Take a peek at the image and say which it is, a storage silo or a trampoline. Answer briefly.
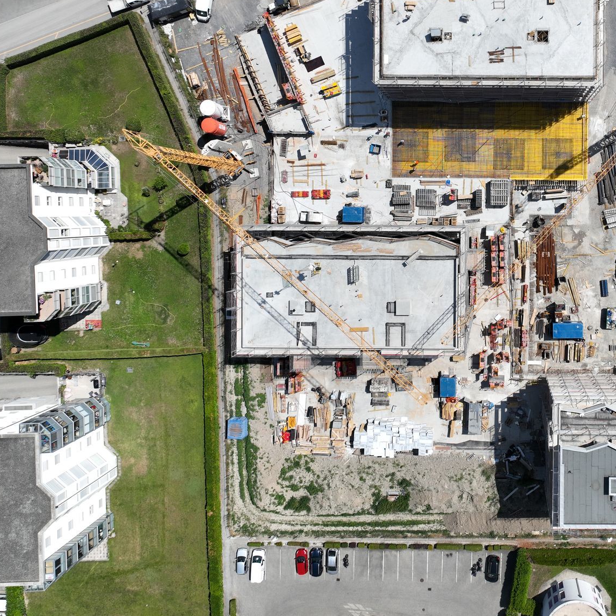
storage silo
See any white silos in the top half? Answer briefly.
Yes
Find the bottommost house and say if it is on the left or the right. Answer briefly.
right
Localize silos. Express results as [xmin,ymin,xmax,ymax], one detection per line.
[200,99,241,122]
[202,117,242,138]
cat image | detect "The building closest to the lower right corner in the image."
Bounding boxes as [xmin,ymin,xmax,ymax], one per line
[544,580,610,616]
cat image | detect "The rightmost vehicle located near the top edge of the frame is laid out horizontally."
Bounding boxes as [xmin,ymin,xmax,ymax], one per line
[271,0,303,13]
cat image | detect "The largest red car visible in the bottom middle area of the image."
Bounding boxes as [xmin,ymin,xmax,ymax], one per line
[294,548,308,574]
